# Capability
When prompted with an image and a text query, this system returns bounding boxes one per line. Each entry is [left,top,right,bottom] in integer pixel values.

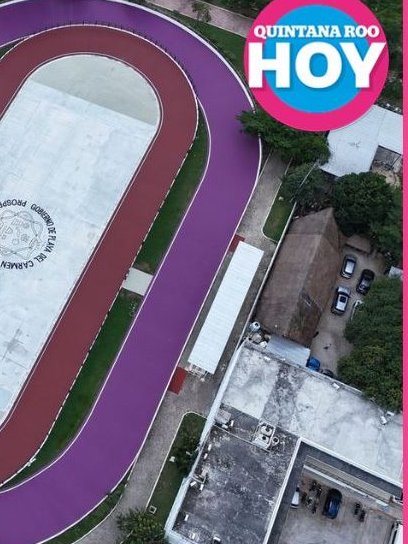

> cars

[288,483,307,511]
[355,270,374,295]
[306,357,317,371]
[339,255,358,281]
[324,487,344,521]
[330,288,349,316]
[322,369,336,381]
